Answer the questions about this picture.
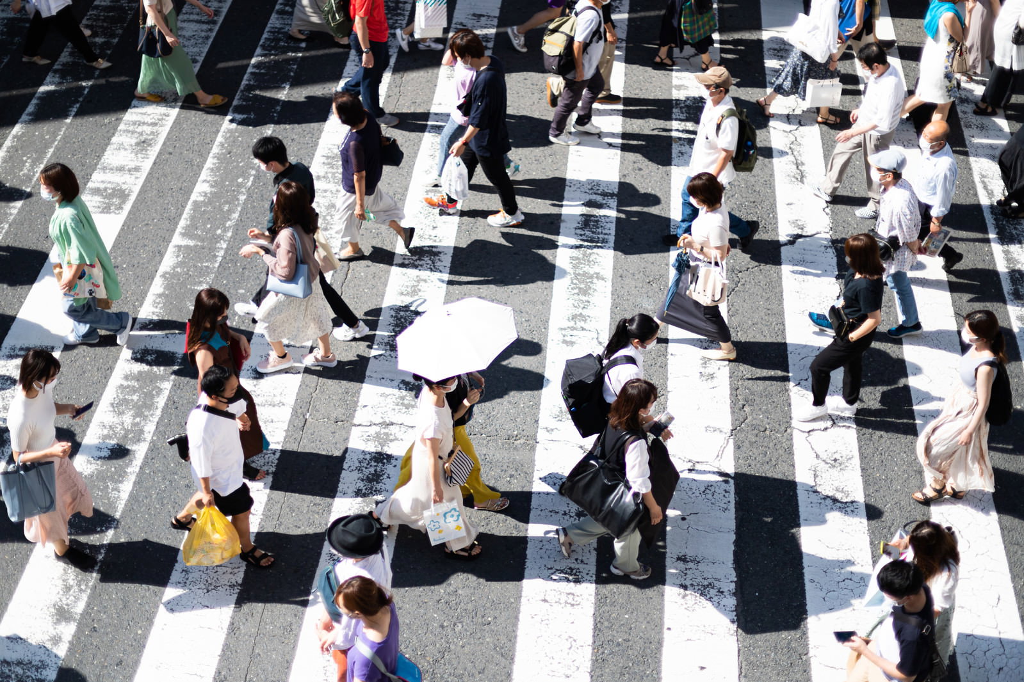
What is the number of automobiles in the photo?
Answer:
none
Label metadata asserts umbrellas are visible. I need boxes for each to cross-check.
[664,234,689,318]
[395,299,519,383]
